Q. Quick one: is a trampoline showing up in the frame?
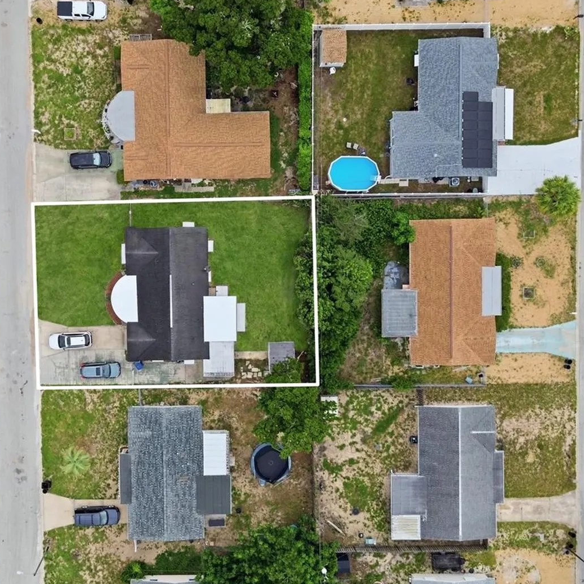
Yes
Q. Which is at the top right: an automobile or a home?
home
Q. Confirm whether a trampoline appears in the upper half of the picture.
No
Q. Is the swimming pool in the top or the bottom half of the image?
top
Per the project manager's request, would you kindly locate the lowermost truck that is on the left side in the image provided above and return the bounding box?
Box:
[73,506,121,528]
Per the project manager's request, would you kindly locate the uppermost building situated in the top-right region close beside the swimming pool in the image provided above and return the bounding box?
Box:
[388,34,512,180]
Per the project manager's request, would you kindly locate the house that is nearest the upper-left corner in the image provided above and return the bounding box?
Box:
[101,39,270,182]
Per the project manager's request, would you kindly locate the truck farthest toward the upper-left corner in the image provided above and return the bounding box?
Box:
[57,0,108,21]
